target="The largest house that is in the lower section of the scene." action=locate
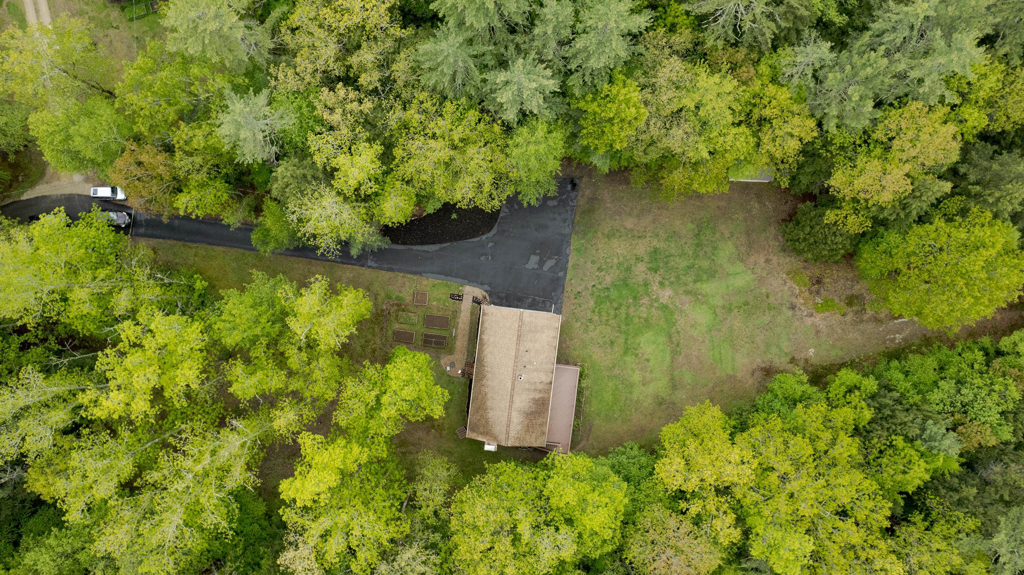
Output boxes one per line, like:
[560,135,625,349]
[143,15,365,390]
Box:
[465,305,563,453]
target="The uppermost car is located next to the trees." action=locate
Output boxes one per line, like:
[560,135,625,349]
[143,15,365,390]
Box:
[87,186,129,203]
